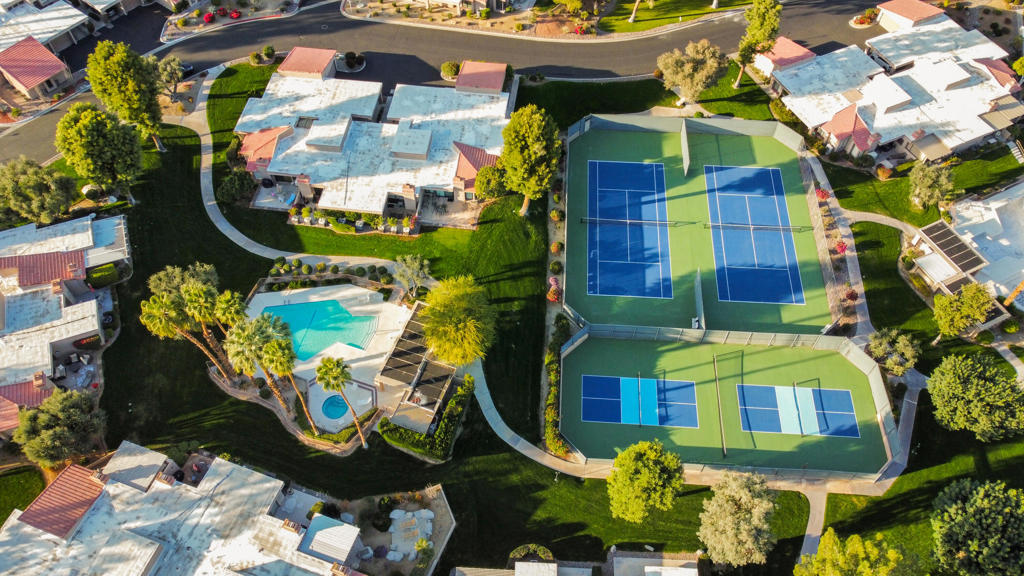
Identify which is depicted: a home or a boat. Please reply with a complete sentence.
Visible in the photo is a home.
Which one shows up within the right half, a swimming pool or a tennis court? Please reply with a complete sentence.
It is a tennis court that can be seen within the right half.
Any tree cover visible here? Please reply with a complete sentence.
Yes, the picture does contain tree cover.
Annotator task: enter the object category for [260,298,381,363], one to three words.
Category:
swimming pool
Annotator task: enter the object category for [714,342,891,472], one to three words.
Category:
sports court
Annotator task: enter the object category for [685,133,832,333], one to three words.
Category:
tennis court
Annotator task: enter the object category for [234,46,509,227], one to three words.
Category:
house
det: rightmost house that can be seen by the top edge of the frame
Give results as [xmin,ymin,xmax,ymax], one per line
[747,0,1024,176]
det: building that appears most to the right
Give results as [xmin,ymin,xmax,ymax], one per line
[912,178,1024,339]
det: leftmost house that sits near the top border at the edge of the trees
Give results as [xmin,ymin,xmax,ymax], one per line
[0,0,92,106]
